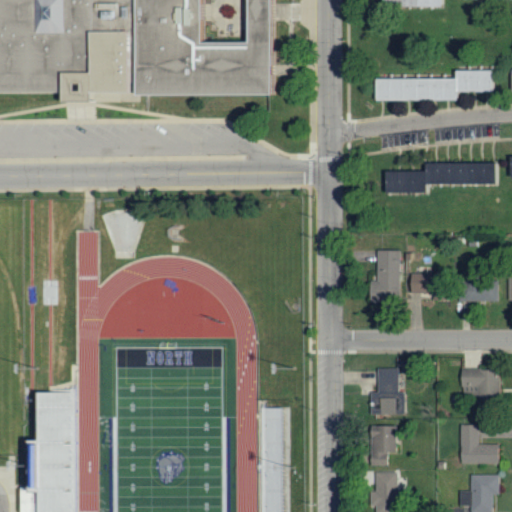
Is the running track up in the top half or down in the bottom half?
bottom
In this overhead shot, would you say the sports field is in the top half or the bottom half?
bottom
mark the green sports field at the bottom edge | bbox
[100,338,236,512]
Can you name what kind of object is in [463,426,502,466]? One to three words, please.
house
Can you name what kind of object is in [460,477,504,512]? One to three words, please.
house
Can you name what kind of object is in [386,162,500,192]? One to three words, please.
building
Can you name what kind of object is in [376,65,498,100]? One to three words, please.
building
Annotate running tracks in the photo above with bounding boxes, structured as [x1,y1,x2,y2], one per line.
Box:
[78,230,259,512]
